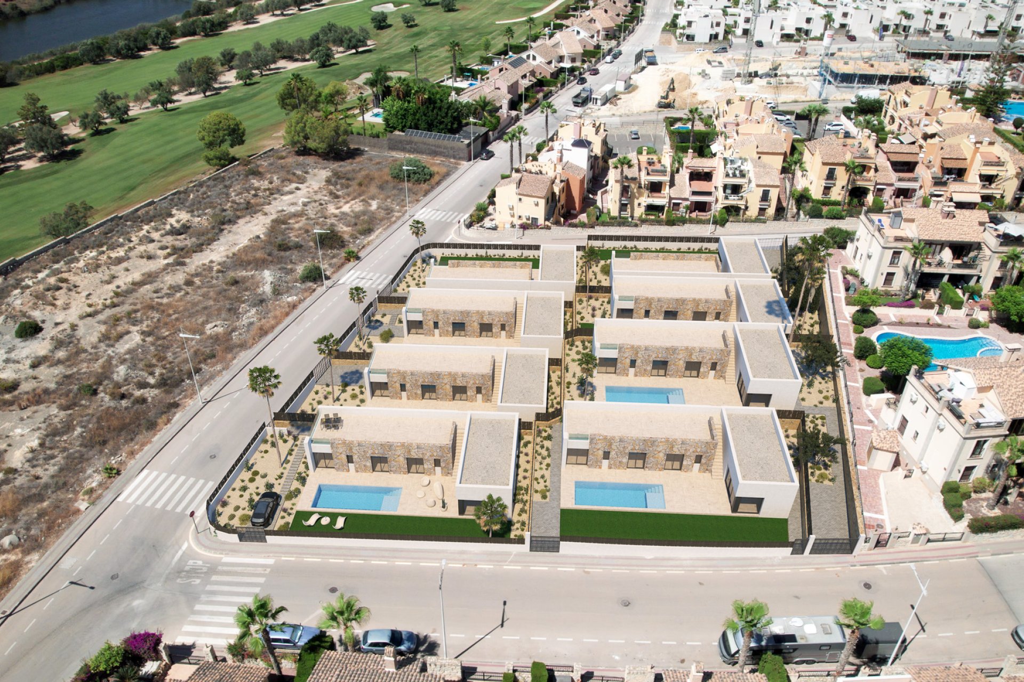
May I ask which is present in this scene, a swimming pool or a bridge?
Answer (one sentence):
Visible in the photo is a swimming pool.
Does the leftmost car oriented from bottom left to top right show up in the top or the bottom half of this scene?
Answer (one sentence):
The bottom half of the photo is where the leftmost car oriented from bottom left to top right is.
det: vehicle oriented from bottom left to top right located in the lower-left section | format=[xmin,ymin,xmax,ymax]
[245,486,283,527]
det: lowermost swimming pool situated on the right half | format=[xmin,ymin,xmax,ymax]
[572,478,669,511]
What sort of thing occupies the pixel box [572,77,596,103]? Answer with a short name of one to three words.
truck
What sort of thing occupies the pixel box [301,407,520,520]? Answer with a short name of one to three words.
house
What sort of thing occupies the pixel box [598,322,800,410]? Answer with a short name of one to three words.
house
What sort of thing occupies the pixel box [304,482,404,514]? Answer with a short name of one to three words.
swimming pool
